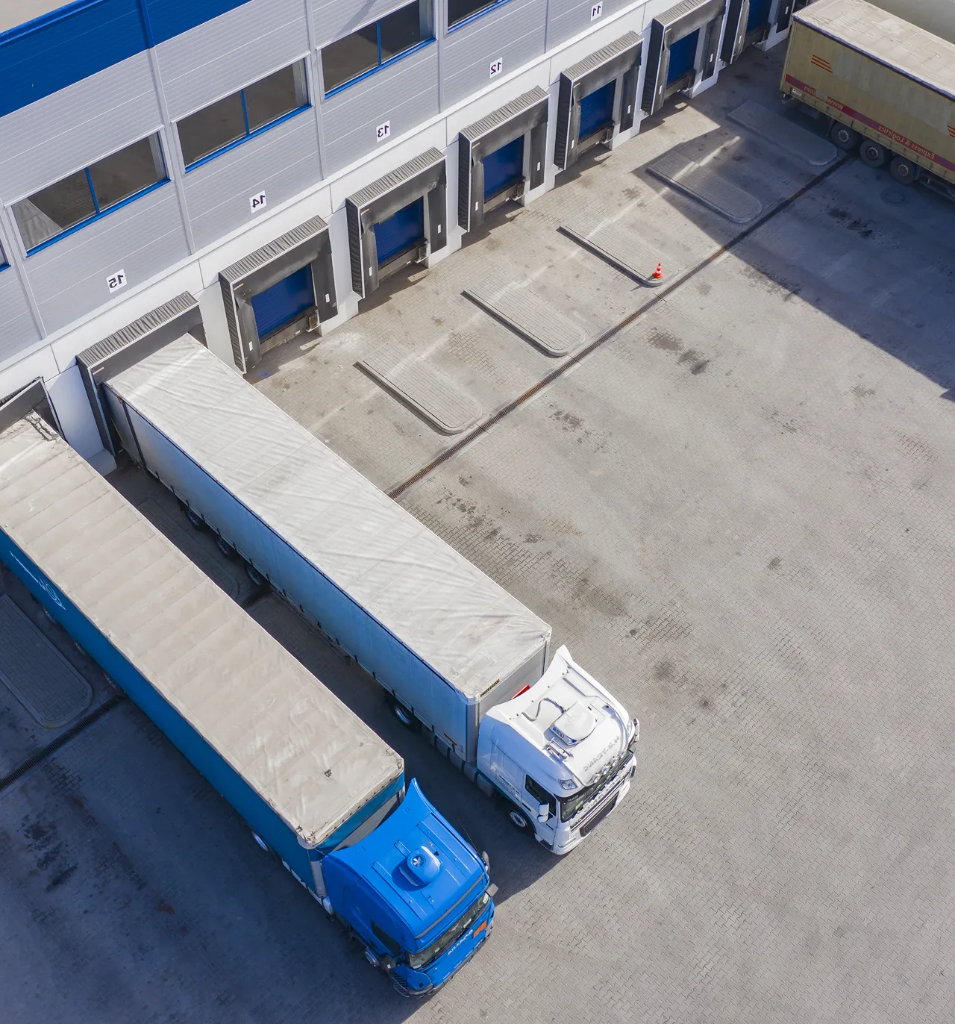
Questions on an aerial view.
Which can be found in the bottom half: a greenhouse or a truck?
truck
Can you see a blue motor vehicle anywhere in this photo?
Yes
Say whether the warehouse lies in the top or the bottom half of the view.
top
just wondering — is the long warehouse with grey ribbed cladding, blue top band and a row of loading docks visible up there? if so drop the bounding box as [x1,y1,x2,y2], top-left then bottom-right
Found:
[0,0,813,460]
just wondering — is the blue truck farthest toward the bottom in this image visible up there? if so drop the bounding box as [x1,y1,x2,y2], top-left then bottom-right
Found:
[321,777,497,1006]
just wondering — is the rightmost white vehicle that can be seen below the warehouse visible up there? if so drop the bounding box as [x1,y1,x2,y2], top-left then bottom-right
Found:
[391,642,639,853]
